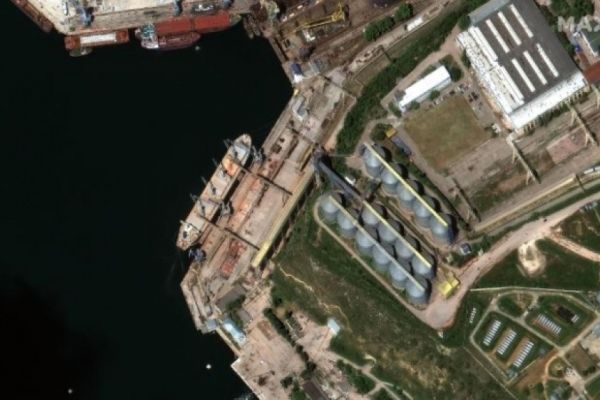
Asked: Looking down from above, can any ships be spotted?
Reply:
Yes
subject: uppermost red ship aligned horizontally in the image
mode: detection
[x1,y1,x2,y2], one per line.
[141,11,241,37]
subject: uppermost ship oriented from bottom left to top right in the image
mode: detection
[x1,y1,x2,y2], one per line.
[178,131,254,251]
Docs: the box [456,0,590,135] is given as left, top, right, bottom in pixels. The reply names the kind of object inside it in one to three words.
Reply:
building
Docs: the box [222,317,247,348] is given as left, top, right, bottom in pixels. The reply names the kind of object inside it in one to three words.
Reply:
building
